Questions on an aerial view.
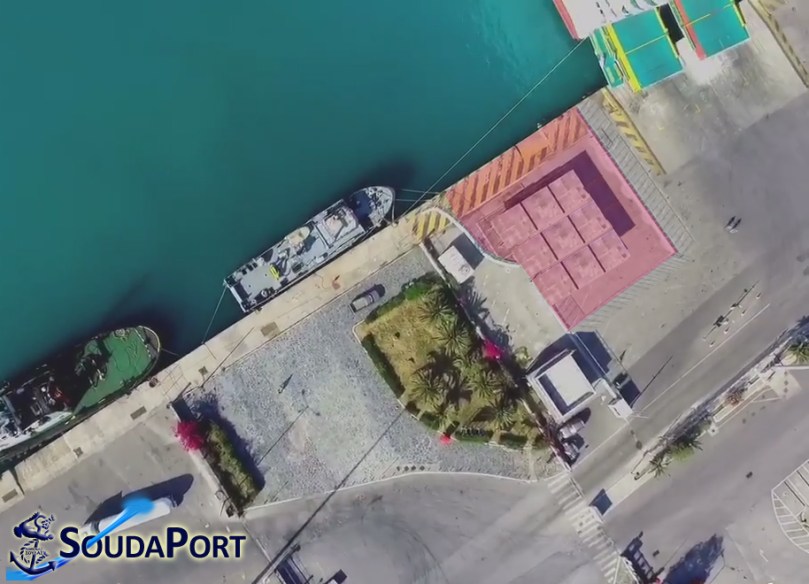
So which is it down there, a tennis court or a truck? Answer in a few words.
truck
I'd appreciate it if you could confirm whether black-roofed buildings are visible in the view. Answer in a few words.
No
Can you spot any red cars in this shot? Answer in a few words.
No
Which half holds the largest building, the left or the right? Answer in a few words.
right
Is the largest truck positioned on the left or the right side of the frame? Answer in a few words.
left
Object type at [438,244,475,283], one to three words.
building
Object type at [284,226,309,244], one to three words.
boat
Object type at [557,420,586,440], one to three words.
car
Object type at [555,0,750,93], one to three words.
ship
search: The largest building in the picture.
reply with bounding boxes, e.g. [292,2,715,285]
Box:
[480,170,630,321]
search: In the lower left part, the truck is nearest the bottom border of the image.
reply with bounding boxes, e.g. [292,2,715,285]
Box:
[81,489,179,533]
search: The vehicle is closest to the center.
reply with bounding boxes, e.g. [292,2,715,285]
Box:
[348,287,383,312]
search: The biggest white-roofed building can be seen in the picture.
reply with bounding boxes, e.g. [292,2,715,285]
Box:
[525,332,596,429]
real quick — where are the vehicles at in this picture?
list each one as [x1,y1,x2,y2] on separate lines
[81,489,179,533]
[348,287,383,312]
[559,439,581,462]
[557,420,586,440]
